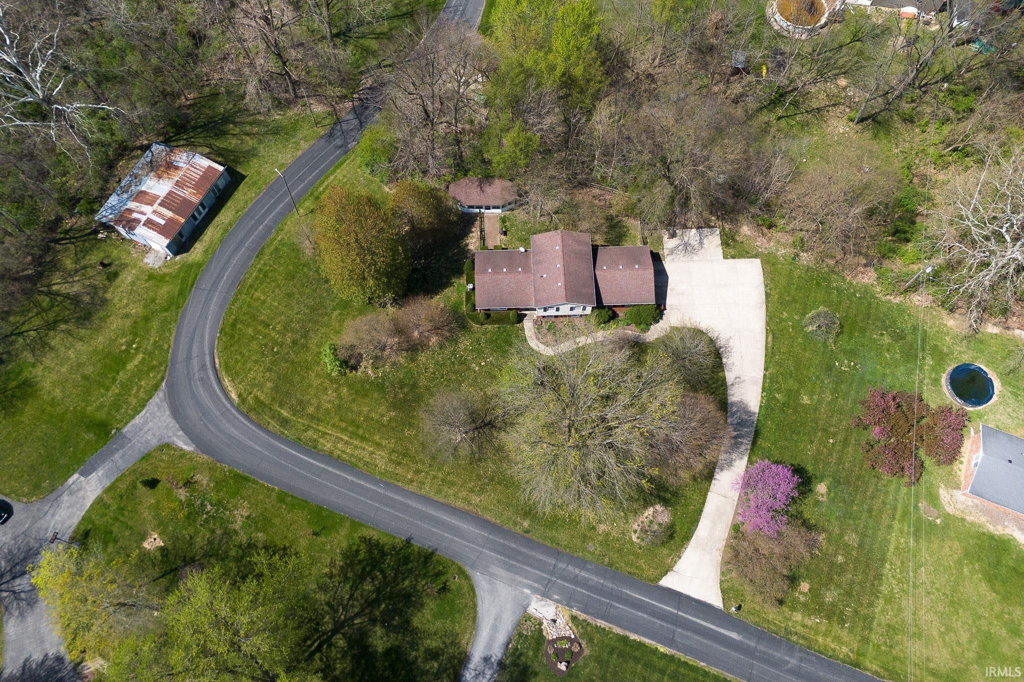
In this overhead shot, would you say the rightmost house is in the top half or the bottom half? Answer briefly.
bottom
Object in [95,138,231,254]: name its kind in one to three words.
barn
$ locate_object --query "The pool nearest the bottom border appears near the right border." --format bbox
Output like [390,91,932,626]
[943,363,996,410]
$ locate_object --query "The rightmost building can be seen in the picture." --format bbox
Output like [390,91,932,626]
[958,422,1024,518]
